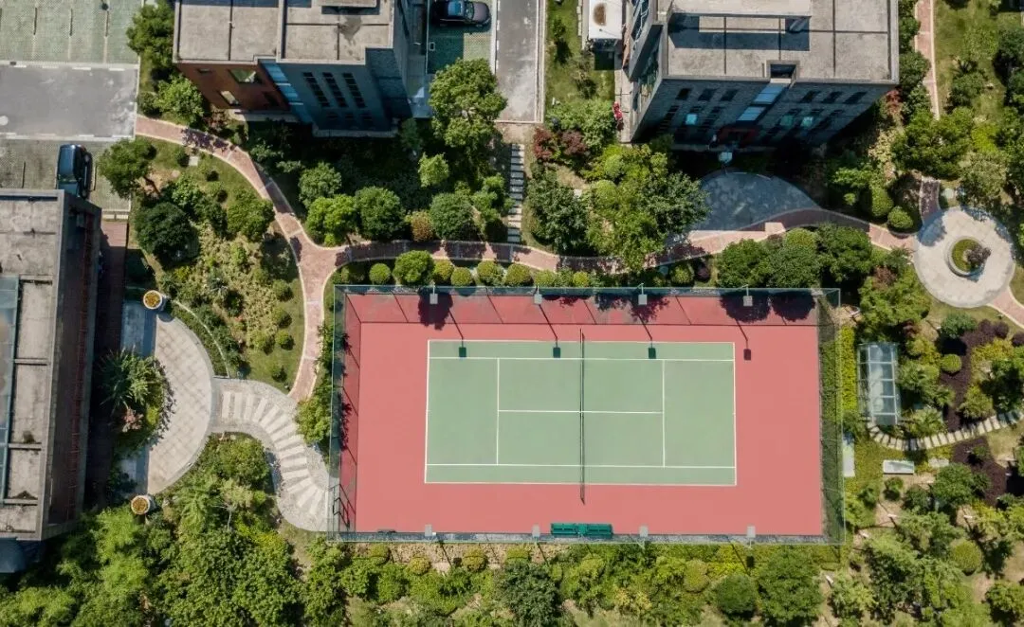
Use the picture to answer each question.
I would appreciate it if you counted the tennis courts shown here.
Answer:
1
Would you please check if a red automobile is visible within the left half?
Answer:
No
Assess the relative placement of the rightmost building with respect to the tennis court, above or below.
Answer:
above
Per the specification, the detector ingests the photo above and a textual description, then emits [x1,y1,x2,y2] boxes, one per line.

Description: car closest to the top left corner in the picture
[60,142,95,201]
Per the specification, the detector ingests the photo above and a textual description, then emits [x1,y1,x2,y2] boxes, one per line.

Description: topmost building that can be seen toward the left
[173,0,415,140]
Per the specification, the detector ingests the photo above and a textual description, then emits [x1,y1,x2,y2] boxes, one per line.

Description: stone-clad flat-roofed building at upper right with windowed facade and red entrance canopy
[626,0,897,156]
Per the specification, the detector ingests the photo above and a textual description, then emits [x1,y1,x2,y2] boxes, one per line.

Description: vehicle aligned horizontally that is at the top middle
[432,0,490,27]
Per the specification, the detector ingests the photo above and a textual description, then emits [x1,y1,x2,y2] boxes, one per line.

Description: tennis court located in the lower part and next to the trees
[339,293,822,536]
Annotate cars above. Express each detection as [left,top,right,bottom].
[432,0,490,27]
[60,142,95,201]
